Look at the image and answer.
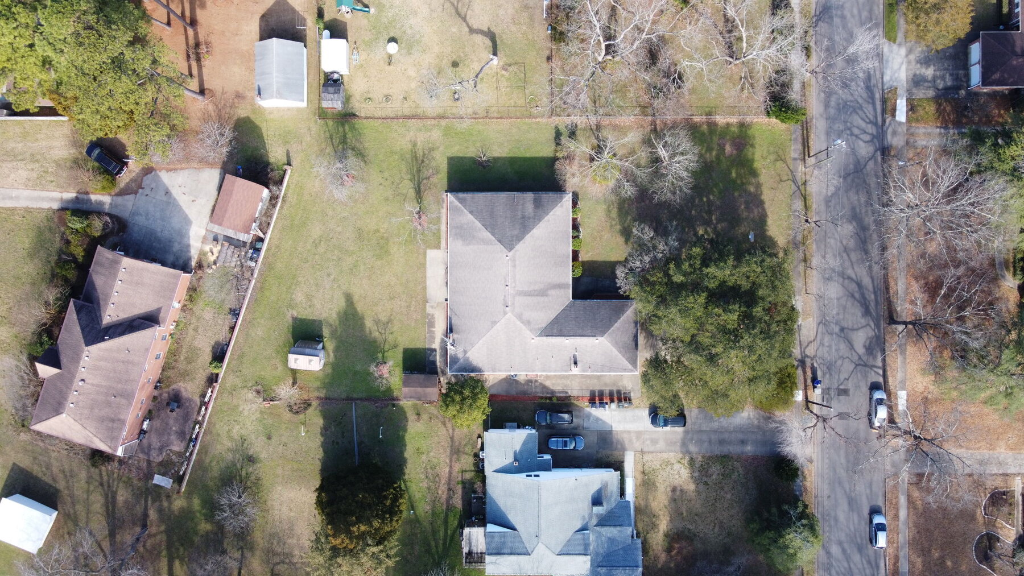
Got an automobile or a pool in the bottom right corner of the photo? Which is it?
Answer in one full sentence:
Visible in the bottom right corner of the photo is an automobile.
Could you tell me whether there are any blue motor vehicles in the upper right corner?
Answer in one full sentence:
No, I see no blue motor vehicle in the upper right corner.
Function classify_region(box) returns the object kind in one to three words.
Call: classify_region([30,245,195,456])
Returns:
house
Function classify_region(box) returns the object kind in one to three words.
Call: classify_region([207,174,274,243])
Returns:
shed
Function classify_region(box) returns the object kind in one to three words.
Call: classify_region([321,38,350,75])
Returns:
shed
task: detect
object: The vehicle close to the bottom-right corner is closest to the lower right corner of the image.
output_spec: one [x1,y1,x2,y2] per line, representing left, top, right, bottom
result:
[871,514,890,550]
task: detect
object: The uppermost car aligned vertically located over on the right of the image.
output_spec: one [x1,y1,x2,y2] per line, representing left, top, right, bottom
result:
[872,390,890,427]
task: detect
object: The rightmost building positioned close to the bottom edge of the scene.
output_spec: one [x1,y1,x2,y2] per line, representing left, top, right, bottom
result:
[464,422,643,576]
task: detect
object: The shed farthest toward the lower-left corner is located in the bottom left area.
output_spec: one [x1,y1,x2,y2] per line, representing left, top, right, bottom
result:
[0,491,65,554]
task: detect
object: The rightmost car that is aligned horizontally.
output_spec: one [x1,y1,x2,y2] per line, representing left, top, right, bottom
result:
[651,413,688,430]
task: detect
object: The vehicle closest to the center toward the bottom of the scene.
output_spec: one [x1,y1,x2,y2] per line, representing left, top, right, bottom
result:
[536,411,573,428]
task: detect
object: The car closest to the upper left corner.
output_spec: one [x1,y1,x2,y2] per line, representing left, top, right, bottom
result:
[81,143,127,179]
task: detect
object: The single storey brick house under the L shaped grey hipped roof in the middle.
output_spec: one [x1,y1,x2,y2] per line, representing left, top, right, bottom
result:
[437,191,639,379]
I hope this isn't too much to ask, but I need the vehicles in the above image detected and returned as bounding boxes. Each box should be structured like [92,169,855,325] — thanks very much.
[871,514,890,550]
[81,143,127,179]
[651,413,688,430]
[548,436,584,453]
[536,411,573,428]
[872,390,890,427]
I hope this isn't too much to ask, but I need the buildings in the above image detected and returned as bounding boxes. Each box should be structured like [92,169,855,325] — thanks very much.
[30,245,195,456]
[969,0,1024,90]
[437,191,639,379]
[403,374,442,401]
[322,83,345,110]
[254,38,309,107]
[0,491,65,554]
[464,422,643,576]
[207,174,274,243]
[287,337,326,372]
[321,38,350,75]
